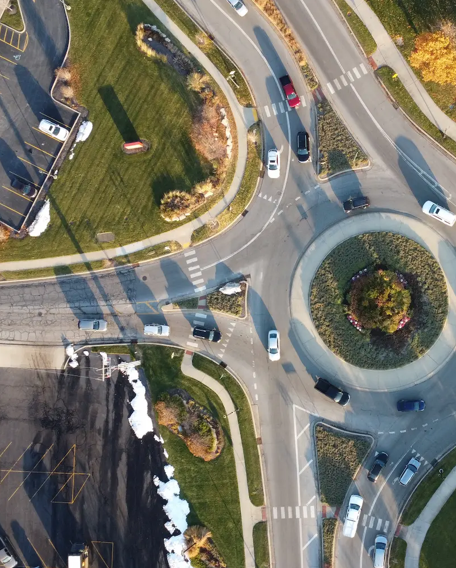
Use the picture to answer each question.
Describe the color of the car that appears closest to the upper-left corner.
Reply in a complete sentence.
In this view, the car that appears closest to the upper-left corner is white.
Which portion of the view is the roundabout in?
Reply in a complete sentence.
The roundabout is in the right part of the image.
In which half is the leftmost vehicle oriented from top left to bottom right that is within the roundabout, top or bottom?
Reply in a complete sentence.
The leftmost vehicle oriented from top left to bottom right that is within the roundabout is in the bottom half of the image.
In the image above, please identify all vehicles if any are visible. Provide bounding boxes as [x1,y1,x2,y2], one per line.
[373,533,389,568]
[266,330,282,361]
[421,202,456,227]
[278,74,302,111]
[226,0,249,19]
[342,196,371,212]
[191,325,224,343]
[78,317,108,333]
[396,454,421,487]
[37,118,72,141]
[366,450,389,483]
[9,177,40,198]
[68,535,91,568]
[266,149,282,180]
[0,533,19,568]
[313,377,352,406]
[142,322,171,337]
[295,132,311,164]
[396,399,425,413]
[344,492,362,538]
